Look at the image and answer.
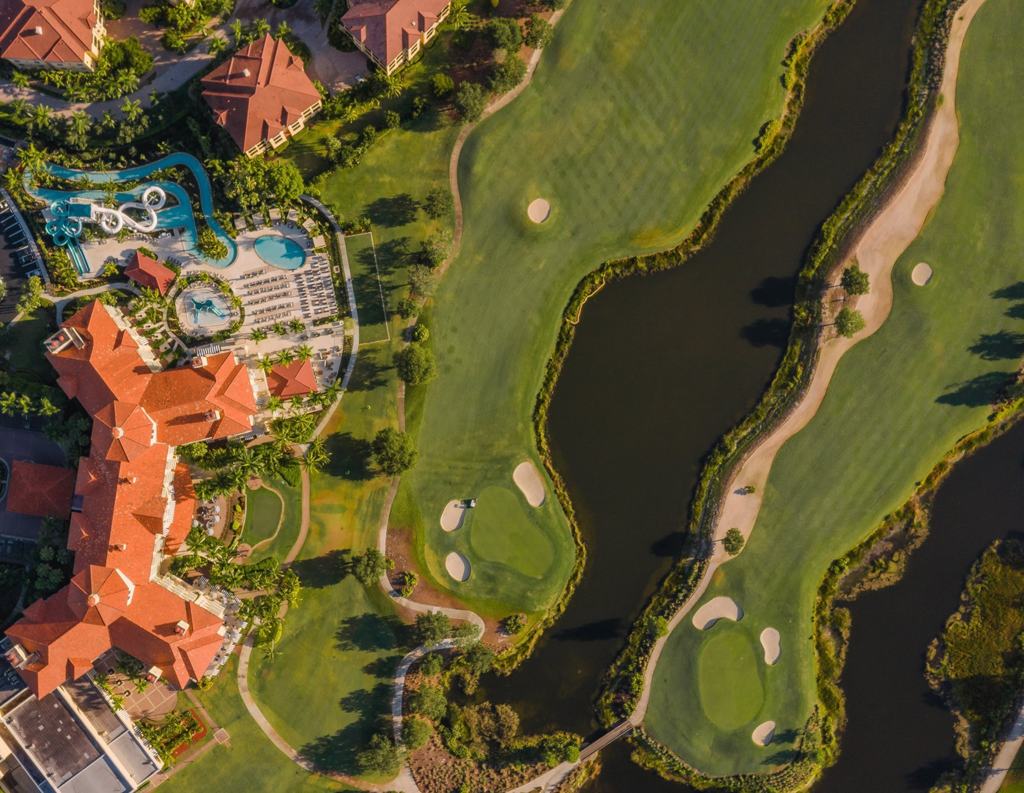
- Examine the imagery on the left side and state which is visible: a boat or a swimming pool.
swimming pool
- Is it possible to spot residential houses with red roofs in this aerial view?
Yes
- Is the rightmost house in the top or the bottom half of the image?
top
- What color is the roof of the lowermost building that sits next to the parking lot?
orange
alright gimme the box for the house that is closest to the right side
[340,0,451,77]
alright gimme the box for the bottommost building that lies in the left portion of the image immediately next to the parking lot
[1,298,265,701]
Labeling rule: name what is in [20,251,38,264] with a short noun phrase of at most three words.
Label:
vehicle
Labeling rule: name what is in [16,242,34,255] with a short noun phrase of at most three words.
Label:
vehicle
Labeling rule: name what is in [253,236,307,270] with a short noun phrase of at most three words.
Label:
swimming pool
